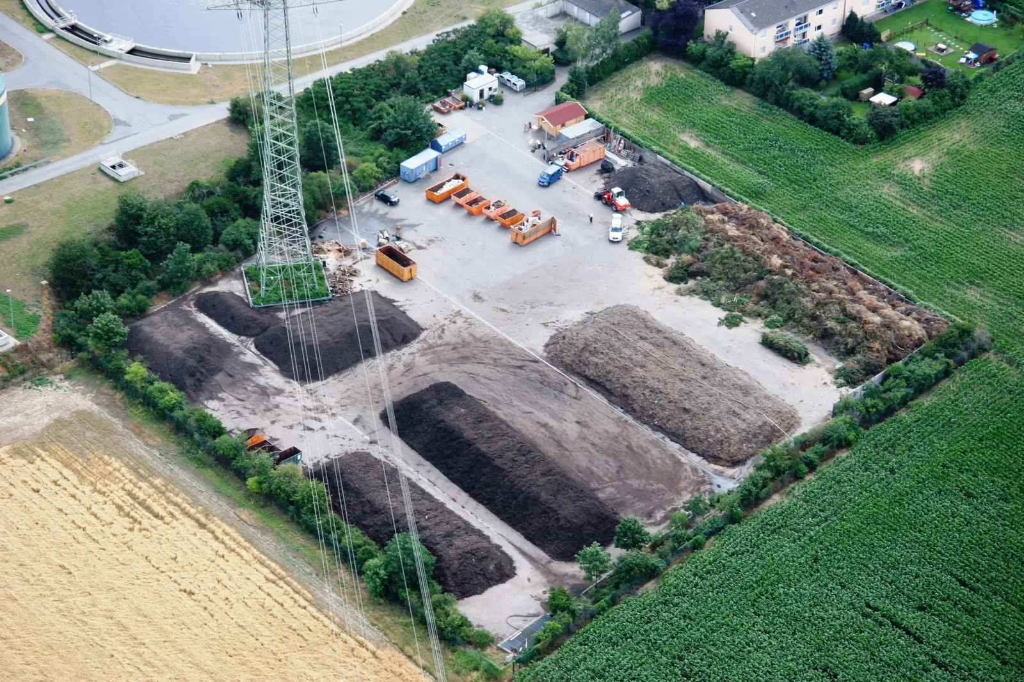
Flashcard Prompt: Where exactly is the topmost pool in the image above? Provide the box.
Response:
[961,8,1005,29]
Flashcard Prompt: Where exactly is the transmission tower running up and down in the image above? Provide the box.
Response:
[198,0,341,299]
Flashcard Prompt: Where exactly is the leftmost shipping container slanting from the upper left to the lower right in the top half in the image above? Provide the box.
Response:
[375,243,416,278]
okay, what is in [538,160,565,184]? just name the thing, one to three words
vehicle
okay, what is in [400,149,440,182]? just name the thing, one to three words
shipping container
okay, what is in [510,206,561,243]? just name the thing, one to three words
shipping container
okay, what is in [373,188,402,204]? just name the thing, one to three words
car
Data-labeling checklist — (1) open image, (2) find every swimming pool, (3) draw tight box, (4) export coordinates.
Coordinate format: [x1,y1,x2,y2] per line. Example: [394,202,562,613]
[961,8,1005,29]
[893,40,916,54]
